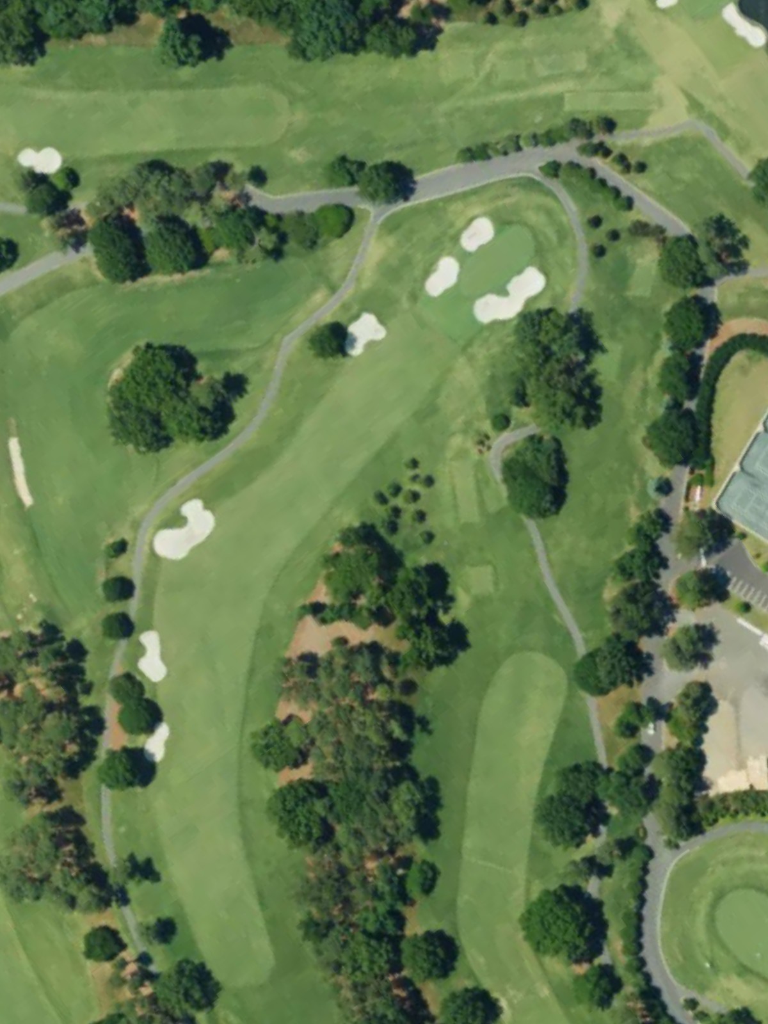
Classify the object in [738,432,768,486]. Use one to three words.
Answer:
tennis court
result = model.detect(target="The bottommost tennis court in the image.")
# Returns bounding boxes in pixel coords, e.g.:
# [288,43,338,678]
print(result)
[718,470,768,531]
